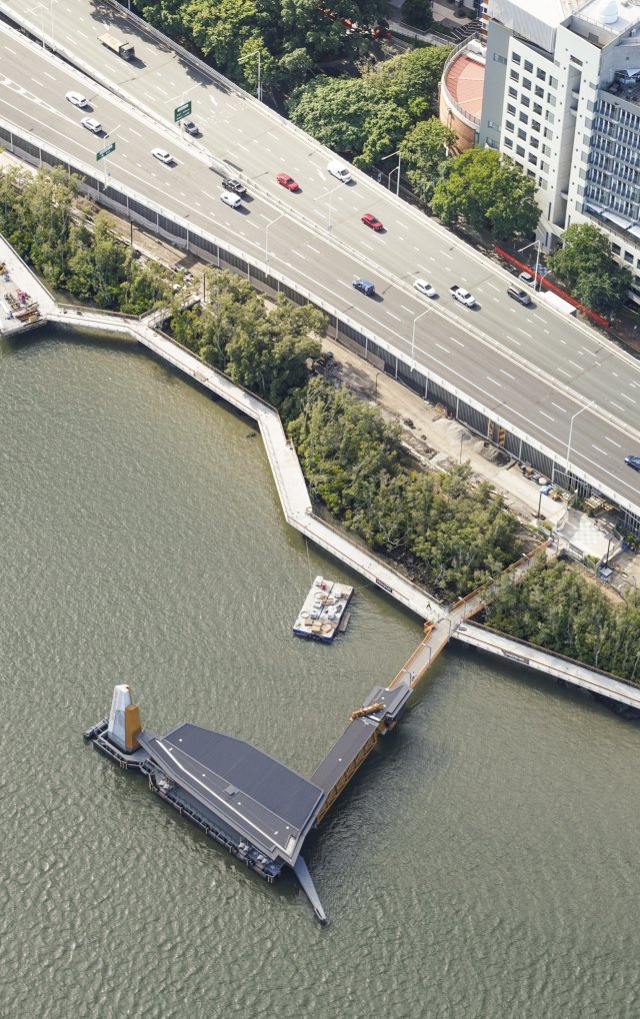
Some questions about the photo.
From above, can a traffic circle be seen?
No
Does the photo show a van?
Yes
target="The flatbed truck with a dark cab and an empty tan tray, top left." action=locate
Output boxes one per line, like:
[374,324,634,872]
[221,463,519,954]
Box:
[102,36,132,58]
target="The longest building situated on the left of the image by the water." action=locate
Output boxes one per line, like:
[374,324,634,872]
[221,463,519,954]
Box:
[92,722,324,887]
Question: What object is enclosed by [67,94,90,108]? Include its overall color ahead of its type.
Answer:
white car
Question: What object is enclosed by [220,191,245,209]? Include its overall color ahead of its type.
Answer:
white vehicle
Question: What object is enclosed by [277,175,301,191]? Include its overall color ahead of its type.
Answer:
red car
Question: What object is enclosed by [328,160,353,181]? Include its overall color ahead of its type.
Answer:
white vehicle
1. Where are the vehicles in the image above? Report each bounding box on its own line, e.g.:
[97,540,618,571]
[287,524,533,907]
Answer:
[328,160,353,181]
[222,177,248,195]
[623,454,640,473]
[102,36,132,58]
[220,191,245,209]
[67,94,90,108]
[353,281,376,297]
[542,288,581,317]
[518,266,541,285]
[507,285,533,304]
[277,175,301,191]
[183,121,202,135]
[152,149,175,164]
[82,118,105,134]
[414,278,439,295]
[450,286,477,306]
[361,215,385,231]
